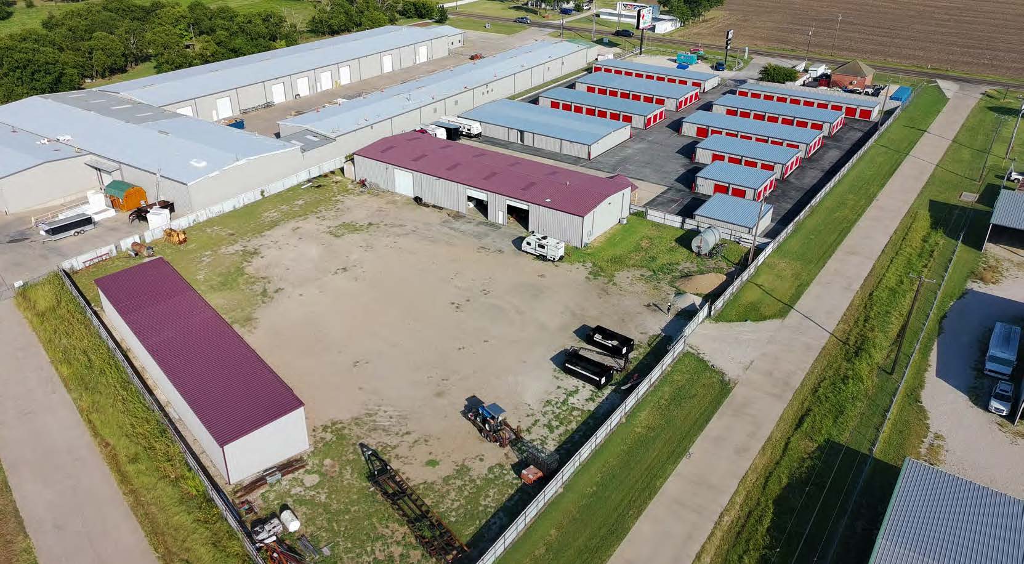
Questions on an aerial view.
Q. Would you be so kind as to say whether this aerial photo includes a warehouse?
Yes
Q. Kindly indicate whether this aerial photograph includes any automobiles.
Yes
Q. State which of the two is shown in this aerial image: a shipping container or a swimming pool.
shipping container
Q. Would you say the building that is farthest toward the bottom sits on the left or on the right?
right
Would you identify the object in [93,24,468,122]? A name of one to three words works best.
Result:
building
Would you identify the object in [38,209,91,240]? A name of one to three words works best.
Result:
trailer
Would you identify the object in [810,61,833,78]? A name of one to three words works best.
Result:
vehicle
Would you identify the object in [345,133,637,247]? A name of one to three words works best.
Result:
building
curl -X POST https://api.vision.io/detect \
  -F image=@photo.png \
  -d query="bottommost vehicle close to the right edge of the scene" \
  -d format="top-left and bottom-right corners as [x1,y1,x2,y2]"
[988,377,1016,414]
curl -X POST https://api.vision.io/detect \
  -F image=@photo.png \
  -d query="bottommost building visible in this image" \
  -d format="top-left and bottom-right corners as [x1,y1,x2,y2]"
[862,457,1024,564]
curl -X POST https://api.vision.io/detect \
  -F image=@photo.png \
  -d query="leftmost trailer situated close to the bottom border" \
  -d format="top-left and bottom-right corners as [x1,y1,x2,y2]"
[357,433,470,557]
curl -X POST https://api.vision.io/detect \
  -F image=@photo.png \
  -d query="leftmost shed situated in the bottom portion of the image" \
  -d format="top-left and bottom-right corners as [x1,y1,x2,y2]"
[93,255,309,483]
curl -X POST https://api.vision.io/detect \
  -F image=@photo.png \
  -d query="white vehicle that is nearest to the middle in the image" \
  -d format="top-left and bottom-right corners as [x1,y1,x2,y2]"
[519,232,565,261]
